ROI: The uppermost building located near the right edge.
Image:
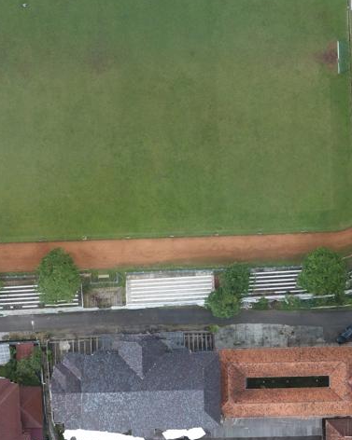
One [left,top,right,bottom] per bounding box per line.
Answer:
[220,344,352,419]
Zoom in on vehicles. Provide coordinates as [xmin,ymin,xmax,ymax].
[336,326,352,346]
